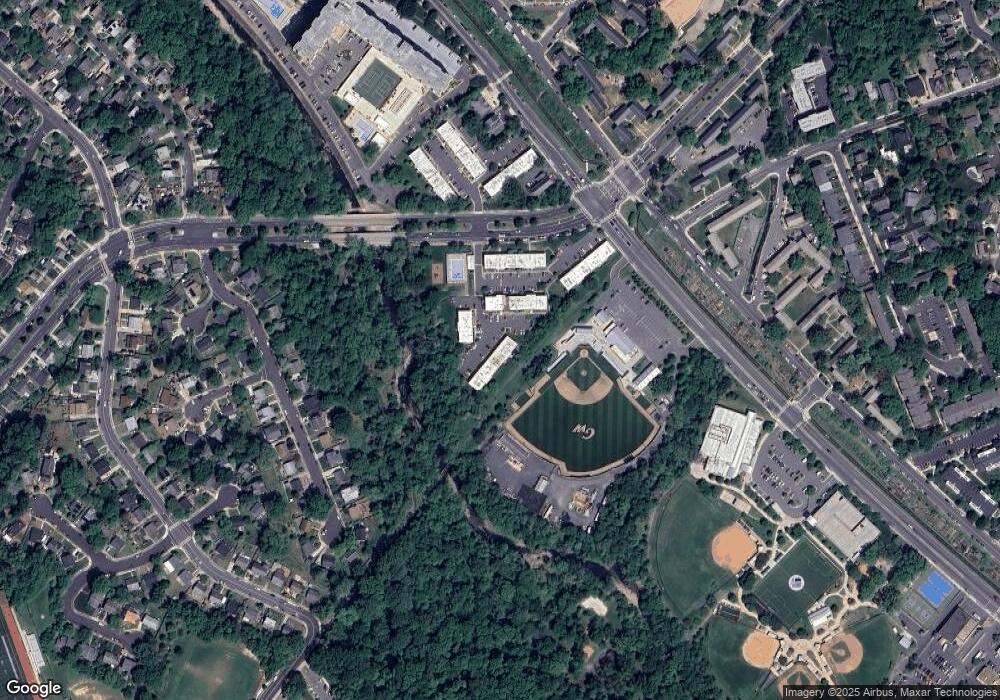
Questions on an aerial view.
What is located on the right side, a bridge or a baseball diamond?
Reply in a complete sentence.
Looking on the right side, you will find a baseball diamond.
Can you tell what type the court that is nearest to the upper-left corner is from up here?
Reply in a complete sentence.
The court that is nearest to the upper-left corner appears to be a tennis court.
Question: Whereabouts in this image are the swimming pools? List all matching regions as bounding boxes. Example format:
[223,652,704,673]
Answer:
[446,253,466,283]
[257,0,296,30]
[345,112,377,150]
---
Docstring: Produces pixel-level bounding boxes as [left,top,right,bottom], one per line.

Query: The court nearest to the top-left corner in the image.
[353,57,401,108]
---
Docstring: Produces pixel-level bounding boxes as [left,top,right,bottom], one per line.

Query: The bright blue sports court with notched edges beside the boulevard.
[904,567,961,620]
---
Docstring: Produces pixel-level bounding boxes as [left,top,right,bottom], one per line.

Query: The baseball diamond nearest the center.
[504,309,664,476]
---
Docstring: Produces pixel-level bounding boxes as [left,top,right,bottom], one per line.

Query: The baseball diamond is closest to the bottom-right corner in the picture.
[820,612,898,700]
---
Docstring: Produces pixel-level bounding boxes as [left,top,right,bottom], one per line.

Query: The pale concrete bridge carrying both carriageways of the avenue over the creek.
[312,213,397,246]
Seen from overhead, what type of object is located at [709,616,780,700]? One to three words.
baseball field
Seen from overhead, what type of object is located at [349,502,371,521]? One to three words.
house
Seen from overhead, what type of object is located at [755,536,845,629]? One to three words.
sports field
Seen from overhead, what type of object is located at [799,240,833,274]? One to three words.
building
